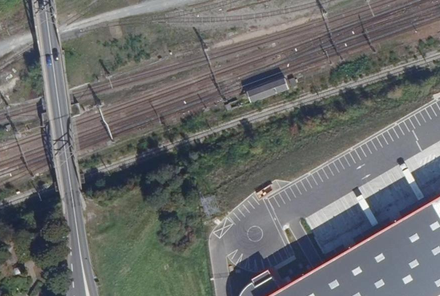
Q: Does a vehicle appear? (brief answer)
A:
Yes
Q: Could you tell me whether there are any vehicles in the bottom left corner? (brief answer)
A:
No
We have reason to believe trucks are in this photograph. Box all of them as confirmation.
[356,194,382,230]
[400,164,425,200]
